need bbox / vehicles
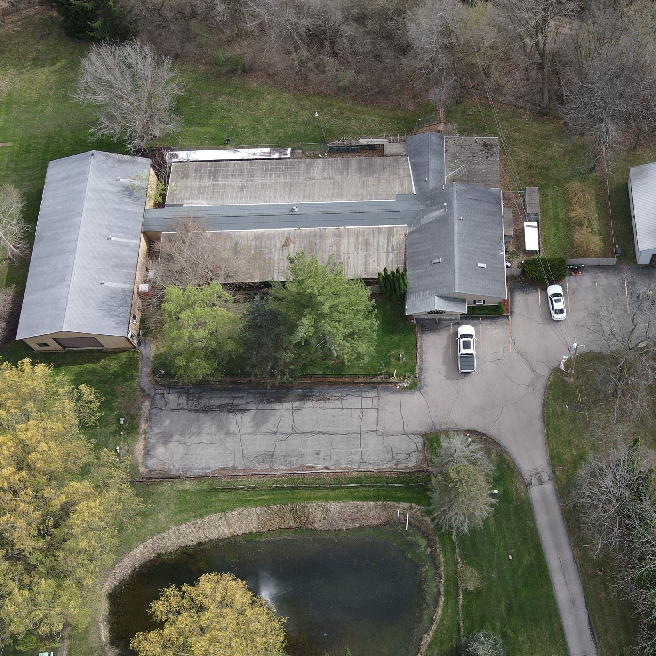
[545,287,567,323]
[455,325,479,377]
